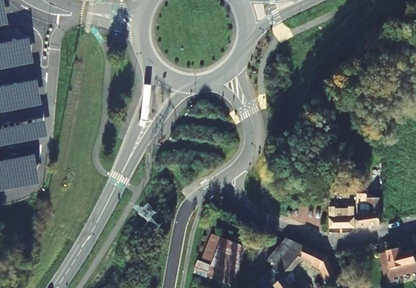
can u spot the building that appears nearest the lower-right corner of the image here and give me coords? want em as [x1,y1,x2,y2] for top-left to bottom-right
[380,248,416,280]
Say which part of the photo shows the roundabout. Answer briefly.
top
